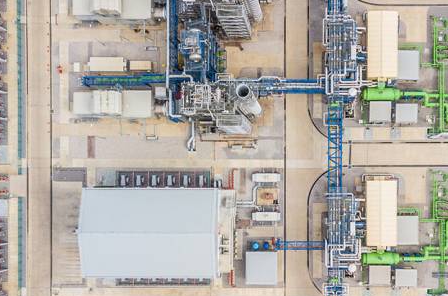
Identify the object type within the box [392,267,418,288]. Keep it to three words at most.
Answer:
house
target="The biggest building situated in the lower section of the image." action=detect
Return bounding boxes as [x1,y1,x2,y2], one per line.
[78,187,222,281]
